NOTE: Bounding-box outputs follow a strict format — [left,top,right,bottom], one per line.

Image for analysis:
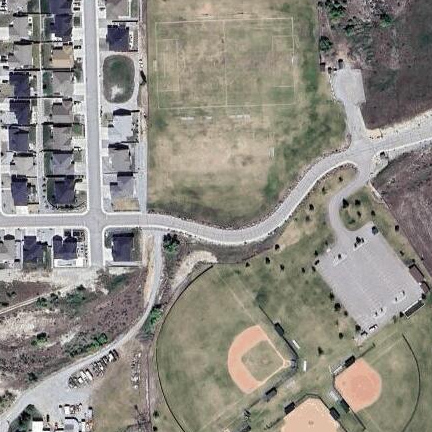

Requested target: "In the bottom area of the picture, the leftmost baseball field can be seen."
[227,325,290,394]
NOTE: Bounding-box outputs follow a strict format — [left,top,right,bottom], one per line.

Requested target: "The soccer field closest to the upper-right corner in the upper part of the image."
[147,0,347,223]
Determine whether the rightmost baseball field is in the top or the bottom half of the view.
bottom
